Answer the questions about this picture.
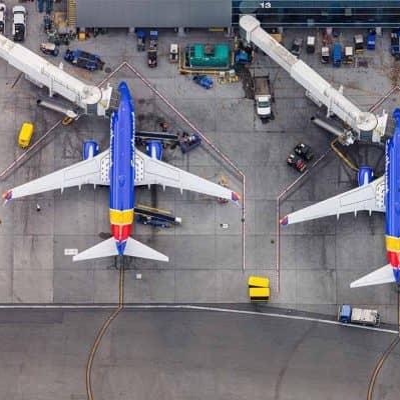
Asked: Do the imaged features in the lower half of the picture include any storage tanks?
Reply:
No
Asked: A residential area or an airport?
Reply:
airport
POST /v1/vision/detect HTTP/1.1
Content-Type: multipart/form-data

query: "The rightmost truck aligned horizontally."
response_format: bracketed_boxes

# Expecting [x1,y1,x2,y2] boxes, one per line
[339,305,383,327]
